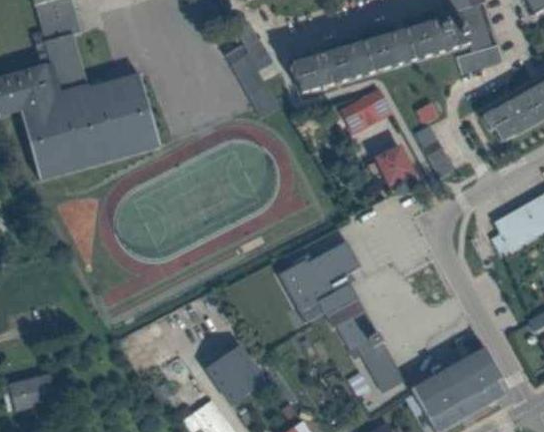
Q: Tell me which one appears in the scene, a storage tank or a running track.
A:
running track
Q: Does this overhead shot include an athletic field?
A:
Yes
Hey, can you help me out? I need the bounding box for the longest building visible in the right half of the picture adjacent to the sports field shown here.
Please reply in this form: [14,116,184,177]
[291,15,469,96]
